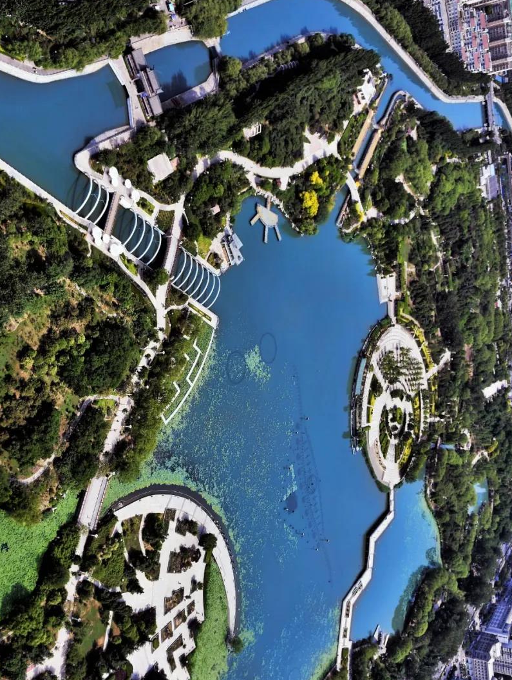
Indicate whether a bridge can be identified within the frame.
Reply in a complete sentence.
Yes, a bridge appears in the view.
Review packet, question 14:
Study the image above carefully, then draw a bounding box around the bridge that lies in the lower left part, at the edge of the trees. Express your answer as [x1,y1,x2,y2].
[78,468,111,530]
